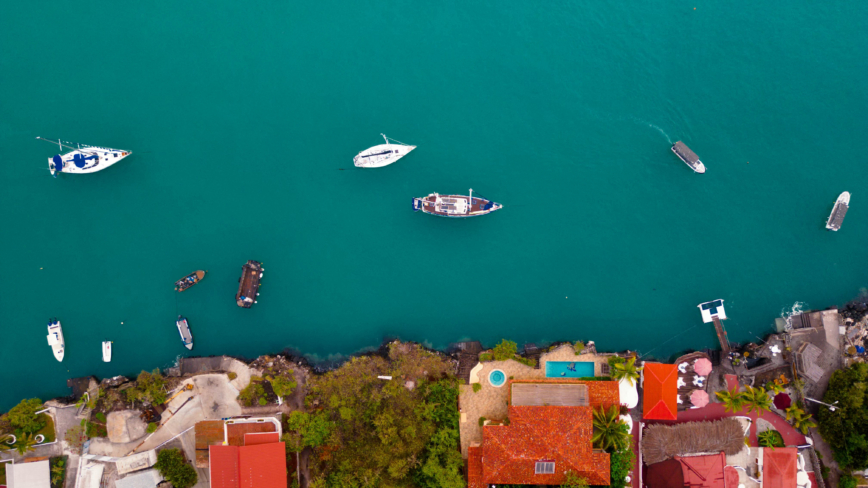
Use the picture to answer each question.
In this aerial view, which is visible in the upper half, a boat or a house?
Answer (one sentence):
The one visible in the upper half is a boat.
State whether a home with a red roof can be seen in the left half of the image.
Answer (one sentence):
Yes, a home with a red roof shows up in the left half of the image.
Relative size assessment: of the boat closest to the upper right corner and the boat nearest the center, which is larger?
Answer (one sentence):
The boat nearest the center covers a greater area than the boat closest to the upper right corner.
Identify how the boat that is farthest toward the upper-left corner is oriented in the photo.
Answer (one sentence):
The boat that is farthest toward the upper-left corner is oriented from side to side.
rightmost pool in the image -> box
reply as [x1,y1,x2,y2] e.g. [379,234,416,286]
[545,360,595,379]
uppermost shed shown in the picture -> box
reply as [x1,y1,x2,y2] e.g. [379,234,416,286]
[698,298,728,323]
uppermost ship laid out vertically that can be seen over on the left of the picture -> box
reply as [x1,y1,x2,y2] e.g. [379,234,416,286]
[236,261,264,308]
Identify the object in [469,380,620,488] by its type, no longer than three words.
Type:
house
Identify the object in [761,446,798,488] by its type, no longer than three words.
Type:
house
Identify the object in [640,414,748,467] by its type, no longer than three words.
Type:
building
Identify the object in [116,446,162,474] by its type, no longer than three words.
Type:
shed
